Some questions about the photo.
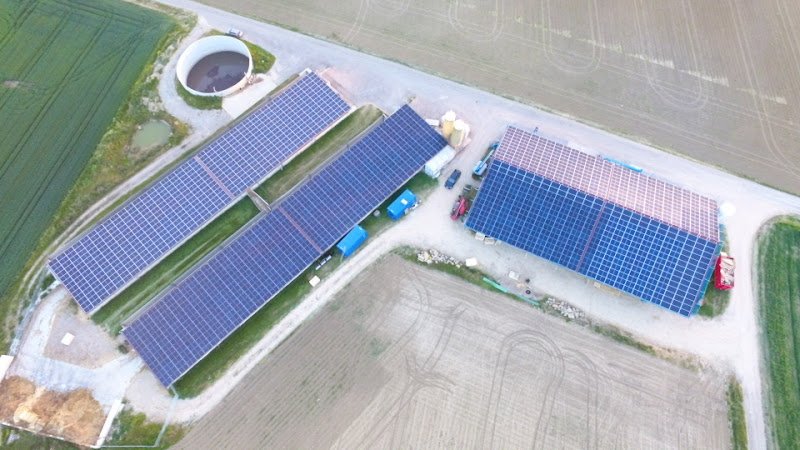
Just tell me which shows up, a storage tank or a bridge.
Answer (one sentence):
This aerial view contains a storage tank.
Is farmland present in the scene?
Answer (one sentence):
Yes, farmland can be seen from above here.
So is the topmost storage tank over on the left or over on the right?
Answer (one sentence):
The topmost storage tank sits on the left side.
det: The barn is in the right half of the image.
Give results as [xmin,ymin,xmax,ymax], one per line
[464,125,723,320]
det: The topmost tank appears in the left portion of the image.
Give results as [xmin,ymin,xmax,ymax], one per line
[176,36,266,102]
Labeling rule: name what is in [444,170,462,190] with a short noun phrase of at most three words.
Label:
car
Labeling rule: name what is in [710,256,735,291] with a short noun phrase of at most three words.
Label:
trailer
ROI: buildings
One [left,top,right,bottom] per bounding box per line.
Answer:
[464,125,723,320]
[45,66,355,318]
[120,99,451,390]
